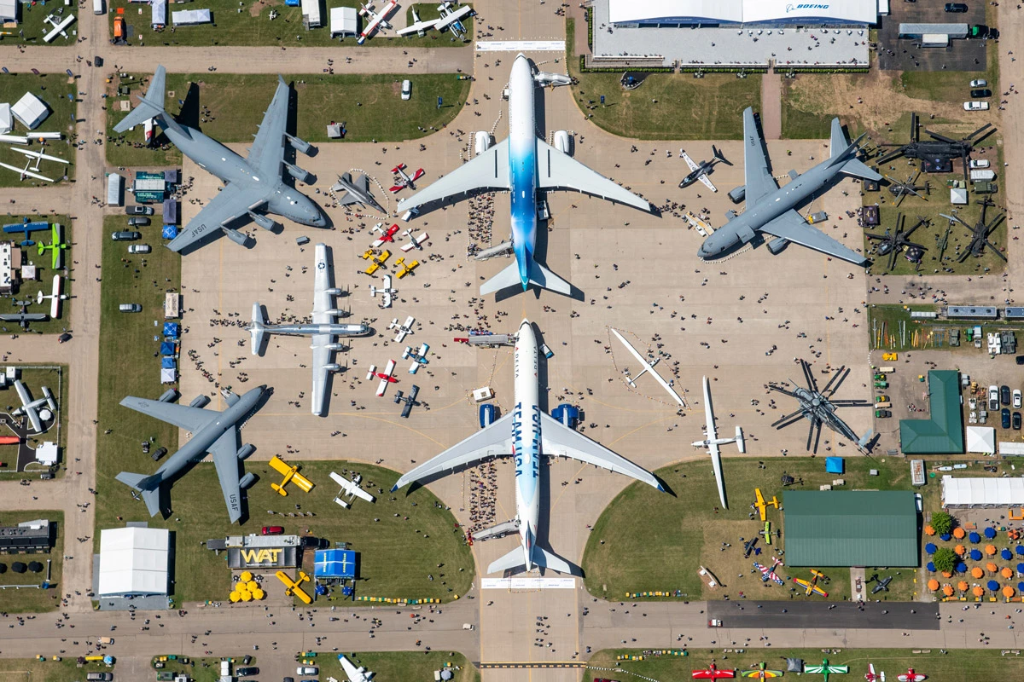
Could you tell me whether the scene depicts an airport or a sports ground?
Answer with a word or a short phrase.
airport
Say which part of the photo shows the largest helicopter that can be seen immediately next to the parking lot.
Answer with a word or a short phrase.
top right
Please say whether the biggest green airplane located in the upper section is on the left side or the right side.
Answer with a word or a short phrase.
left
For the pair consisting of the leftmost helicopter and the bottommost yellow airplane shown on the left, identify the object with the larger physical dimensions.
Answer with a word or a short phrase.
the helicopter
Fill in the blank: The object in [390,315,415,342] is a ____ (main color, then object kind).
white airplane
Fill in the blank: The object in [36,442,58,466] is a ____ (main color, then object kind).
white tent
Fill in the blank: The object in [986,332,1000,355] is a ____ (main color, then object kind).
white vehicle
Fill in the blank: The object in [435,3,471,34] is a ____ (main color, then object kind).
white airplane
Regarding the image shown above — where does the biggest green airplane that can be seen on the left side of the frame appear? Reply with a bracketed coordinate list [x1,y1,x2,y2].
[37,222,68,267]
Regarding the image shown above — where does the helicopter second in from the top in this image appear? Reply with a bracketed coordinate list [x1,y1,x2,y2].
[885,168,937,204]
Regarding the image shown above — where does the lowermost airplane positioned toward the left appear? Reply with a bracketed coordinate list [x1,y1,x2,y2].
[334,652,373,682]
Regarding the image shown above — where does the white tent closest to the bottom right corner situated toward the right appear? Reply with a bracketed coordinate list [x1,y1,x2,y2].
[941,479,1024,507]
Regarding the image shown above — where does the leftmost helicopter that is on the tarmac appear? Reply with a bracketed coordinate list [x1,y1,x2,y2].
[767,357,867,454]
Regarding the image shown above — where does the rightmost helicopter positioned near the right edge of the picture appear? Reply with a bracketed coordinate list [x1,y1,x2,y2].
[952,193,1007,262]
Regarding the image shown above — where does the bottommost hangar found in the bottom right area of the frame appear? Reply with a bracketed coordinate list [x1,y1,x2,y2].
[782,490,917,569]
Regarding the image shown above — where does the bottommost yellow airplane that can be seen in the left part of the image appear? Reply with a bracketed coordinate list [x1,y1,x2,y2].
[277,572,309,602]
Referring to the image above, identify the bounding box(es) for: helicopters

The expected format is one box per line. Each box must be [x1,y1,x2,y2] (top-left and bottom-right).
[875,112,992,179]
[865,212,932,268]
[885,168,937,204]
[952,193,1007,262]
[767,357,867,454]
